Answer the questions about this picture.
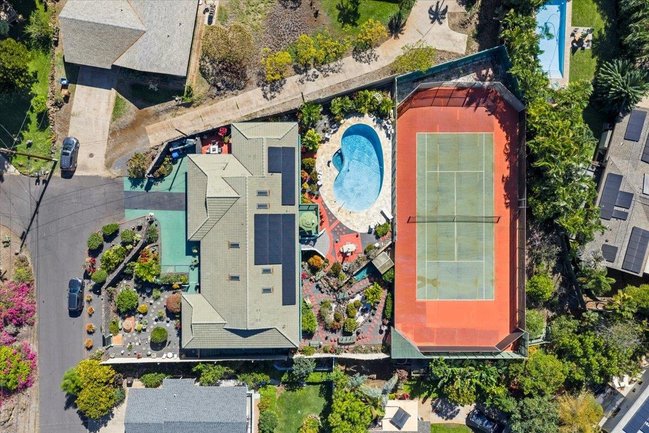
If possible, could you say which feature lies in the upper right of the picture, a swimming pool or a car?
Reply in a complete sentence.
You can see a swimming pool in the upper right of the picture.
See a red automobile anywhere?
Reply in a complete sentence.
No, this view has no red automobile in it.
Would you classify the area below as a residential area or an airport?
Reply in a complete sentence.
The area seen from above is a residential area.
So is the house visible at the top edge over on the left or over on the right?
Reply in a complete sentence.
The house visible at the top edge sits on the left side.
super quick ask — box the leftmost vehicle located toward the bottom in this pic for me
[67,278,86,313]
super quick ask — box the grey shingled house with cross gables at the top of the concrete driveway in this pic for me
[59,0,200,74]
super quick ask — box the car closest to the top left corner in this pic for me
[60,138,79,171]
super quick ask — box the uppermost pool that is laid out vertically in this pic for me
[535,0,566,77]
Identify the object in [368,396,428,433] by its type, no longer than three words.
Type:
shed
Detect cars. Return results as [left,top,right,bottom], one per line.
[468,408,501,433]
[60,138,79,171]
[67,278,86,313]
